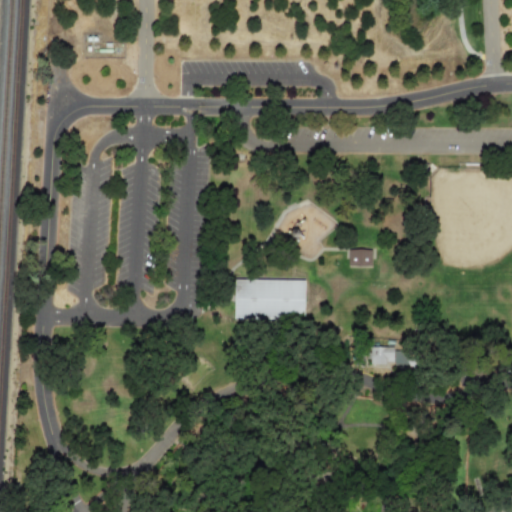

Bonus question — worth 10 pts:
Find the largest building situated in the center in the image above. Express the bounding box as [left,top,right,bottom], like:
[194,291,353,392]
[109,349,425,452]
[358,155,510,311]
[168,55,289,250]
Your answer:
[232,280,306,321]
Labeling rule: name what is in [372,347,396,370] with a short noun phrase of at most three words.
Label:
house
